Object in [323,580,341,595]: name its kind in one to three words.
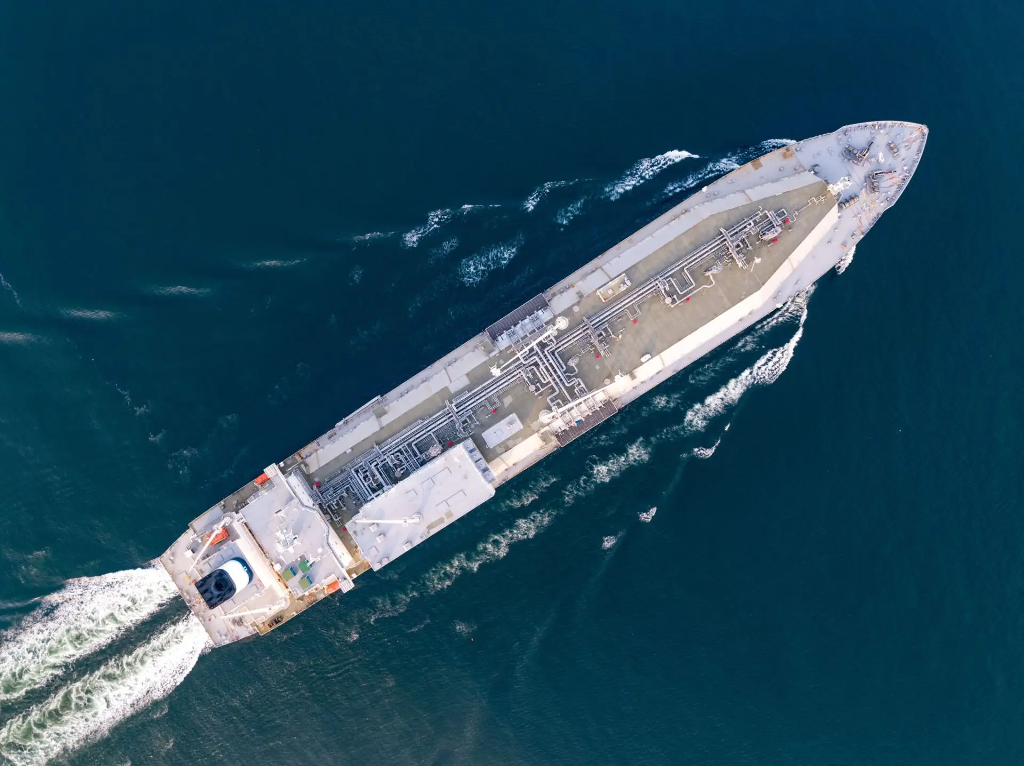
boat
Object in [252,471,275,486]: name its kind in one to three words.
boat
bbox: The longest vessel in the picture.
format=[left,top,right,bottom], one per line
[159,118,931,649]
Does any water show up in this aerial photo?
Yes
